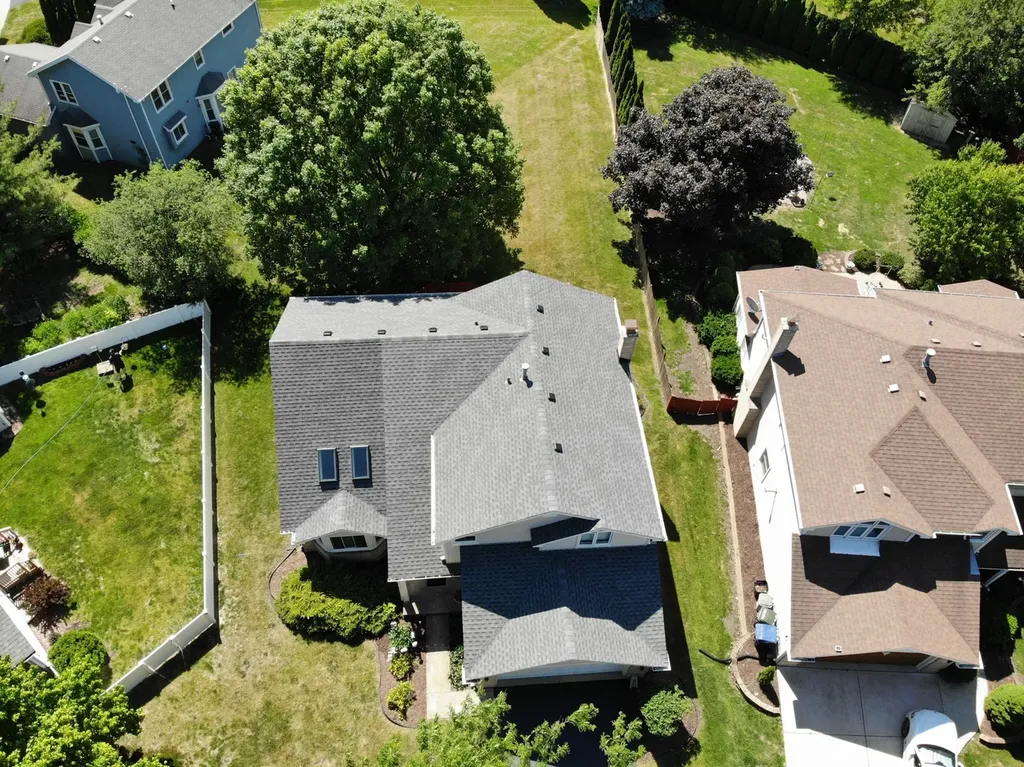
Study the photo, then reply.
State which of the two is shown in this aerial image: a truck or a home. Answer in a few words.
home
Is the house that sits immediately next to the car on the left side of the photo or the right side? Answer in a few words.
right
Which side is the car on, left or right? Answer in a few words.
right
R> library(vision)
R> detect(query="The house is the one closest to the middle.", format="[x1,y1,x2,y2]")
[271,270,673,691]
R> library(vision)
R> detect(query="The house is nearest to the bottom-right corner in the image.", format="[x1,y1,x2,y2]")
[729,265,1024,677]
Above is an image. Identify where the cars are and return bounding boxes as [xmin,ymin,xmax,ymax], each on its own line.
[901,713,969,767]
